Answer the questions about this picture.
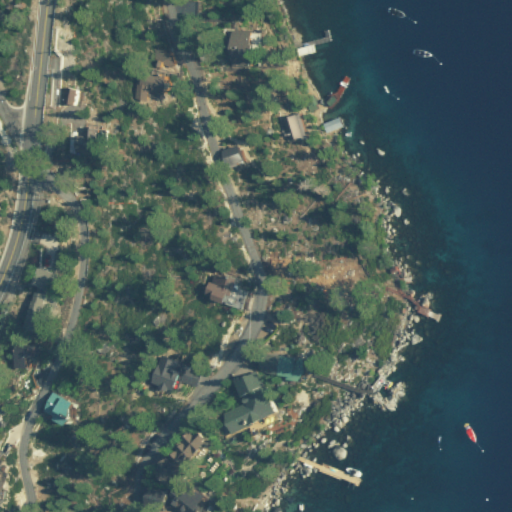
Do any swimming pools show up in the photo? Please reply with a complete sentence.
No, I can't see a single swimming pool in this photo.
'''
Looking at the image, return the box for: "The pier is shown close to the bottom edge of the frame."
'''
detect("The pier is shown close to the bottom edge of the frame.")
[298,456,362,488]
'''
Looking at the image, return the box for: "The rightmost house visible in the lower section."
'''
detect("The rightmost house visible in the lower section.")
[276,355,302,381]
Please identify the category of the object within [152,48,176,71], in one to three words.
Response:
house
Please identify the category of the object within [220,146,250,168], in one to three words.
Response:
house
